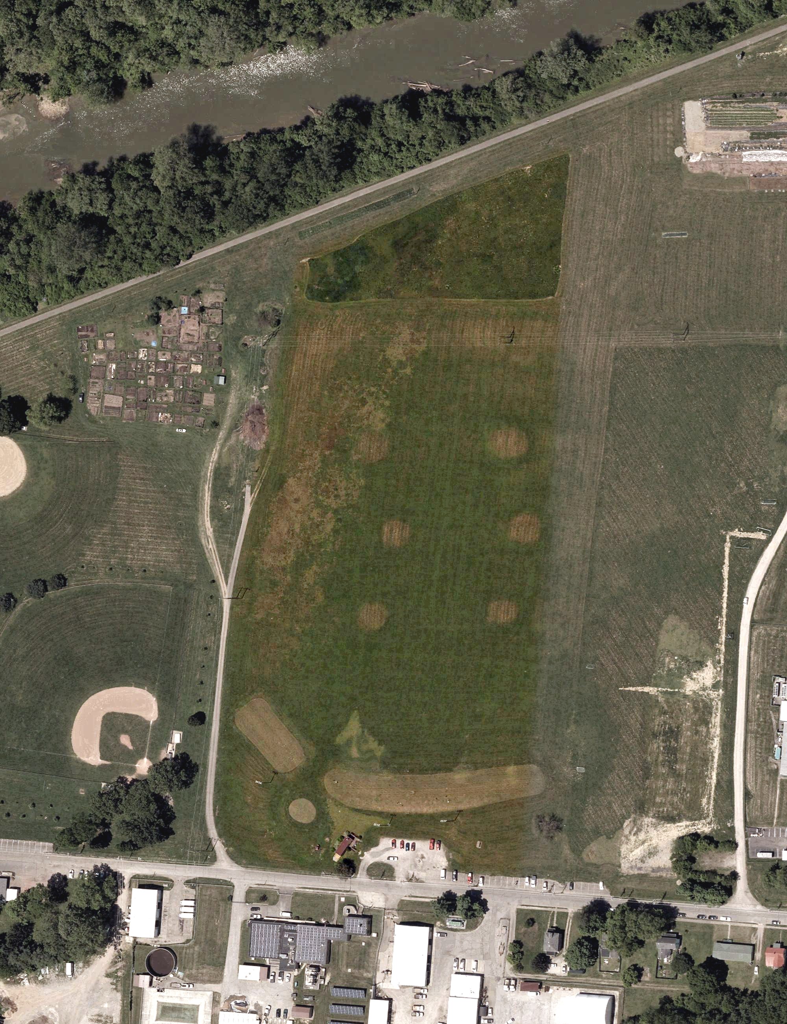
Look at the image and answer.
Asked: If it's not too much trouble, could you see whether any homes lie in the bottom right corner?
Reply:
Yes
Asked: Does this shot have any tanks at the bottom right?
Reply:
No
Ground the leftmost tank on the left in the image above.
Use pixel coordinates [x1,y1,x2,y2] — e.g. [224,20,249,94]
[145,947,178,977]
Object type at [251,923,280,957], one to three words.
solar array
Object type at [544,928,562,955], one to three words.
house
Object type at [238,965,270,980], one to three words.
building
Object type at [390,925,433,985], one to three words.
building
